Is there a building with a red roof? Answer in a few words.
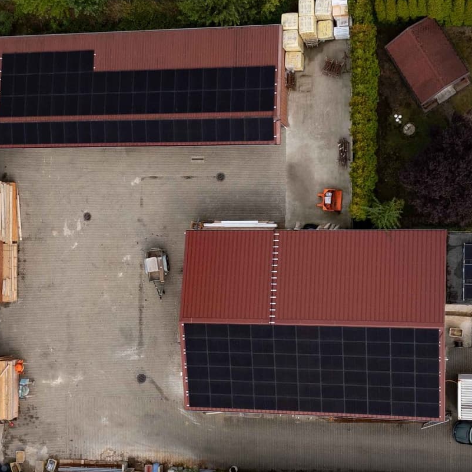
Yes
